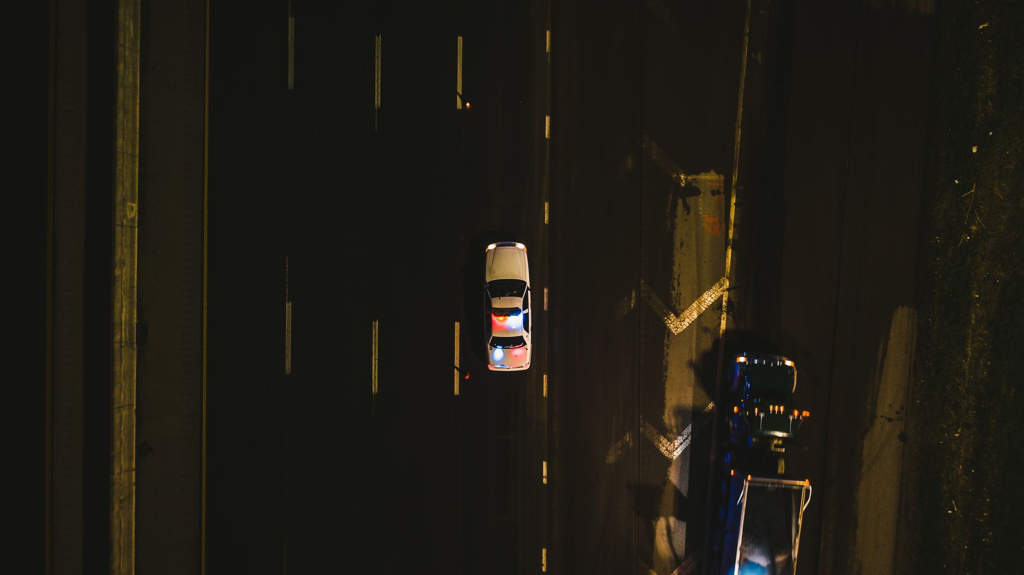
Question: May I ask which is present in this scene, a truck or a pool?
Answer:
truck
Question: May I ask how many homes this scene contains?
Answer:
none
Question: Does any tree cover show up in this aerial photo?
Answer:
No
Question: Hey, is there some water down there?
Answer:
No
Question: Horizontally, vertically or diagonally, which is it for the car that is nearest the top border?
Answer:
vertically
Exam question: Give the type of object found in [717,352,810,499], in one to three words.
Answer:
truck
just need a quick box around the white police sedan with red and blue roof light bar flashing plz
[481,242,534,372]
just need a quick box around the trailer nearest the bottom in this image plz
[716,466,813,575]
